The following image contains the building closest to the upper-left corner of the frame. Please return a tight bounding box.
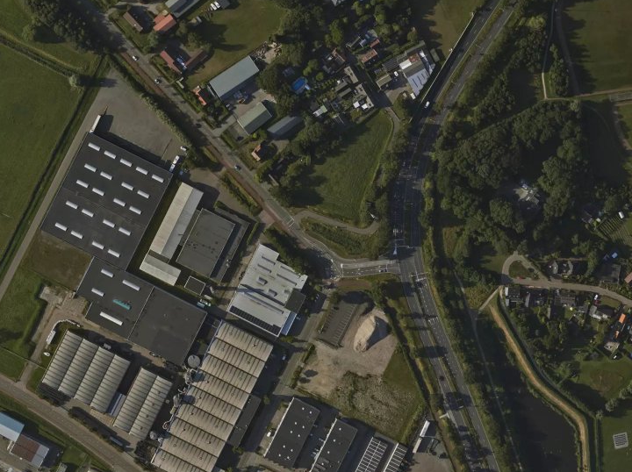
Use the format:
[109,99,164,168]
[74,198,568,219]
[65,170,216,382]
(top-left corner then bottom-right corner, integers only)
[126,9,149,33]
